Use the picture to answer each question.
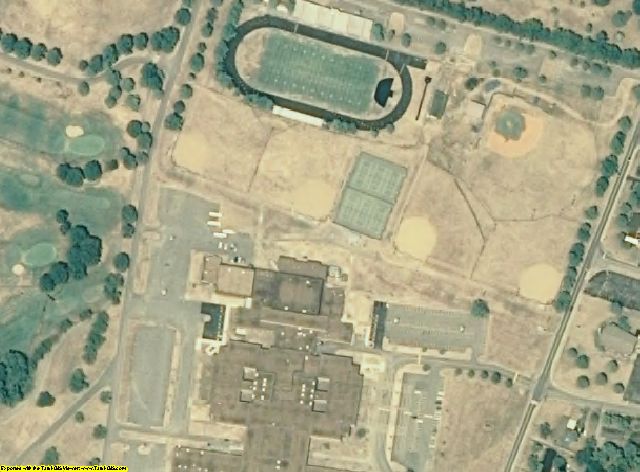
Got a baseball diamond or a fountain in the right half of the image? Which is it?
baseball diamond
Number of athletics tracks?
1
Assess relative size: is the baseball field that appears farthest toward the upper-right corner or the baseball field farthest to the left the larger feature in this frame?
the baseball field that appears farthest toward the upper-right corner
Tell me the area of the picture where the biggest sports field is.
top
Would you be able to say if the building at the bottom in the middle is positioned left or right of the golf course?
on its right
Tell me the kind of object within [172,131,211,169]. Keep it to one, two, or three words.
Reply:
baseball field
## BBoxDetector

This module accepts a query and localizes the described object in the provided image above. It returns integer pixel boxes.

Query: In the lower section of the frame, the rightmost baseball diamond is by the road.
[519,261,566,306]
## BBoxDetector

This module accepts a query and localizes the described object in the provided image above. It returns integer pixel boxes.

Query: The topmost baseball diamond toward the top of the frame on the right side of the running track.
[478,97,603,209]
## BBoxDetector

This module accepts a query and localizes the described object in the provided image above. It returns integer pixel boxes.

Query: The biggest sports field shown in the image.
[251,28,383,114]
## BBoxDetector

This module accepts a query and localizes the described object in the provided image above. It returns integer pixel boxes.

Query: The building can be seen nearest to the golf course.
[171,254,364,472]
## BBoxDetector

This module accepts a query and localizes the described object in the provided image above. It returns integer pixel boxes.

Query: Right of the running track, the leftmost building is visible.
[430,89,449,119]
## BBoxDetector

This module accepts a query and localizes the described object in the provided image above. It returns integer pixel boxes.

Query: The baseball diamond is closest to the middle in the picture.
[289,175,337,223]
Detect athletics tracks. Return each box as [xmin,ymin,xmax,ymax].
[225,17,428,132]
